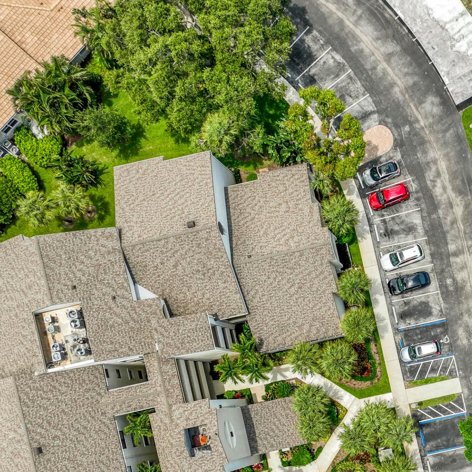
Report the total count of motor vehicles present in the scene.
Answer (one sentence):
Looking from above, you can make out 5 motor vehicles.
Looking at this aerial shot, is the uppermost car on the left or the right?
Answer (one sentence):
It is on the right.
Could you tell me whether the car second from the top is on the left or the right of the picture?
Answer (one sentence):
The car second from the top is on the right side of the image.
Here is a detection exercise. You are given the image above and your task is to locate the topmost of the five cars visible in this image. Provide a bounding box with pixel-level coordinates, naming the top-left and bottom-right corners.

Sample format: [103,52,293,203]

[362,161,403,188]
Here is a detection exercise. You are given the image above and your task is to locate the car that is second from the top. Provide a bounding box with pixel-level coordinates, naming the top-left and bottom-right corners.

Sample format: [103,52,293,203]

[369,185,412,213]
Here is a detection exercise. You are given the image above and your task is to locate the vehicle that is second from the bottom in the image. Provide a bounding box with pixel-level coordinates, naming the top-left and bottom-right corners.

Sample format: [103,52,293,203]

[388,271,432,297]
